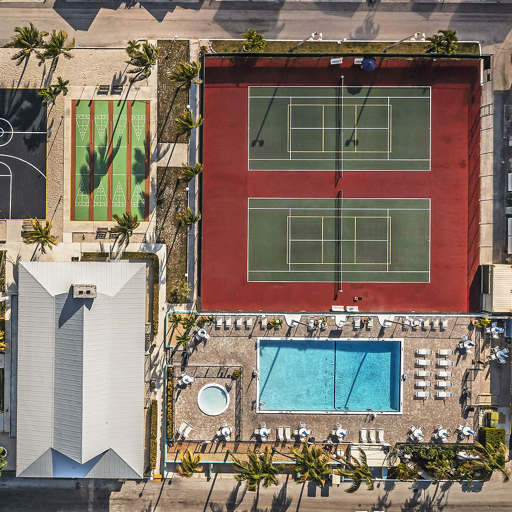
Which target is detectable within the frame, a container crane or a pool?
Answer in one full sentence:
There is a pool in the scene.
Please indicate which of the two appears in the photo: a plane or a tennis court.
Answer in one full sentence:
Of the two, only a tennis court appears.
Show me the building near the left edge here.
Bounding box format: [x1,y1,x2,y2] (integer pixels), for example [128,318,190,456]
[11,261,152,479]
